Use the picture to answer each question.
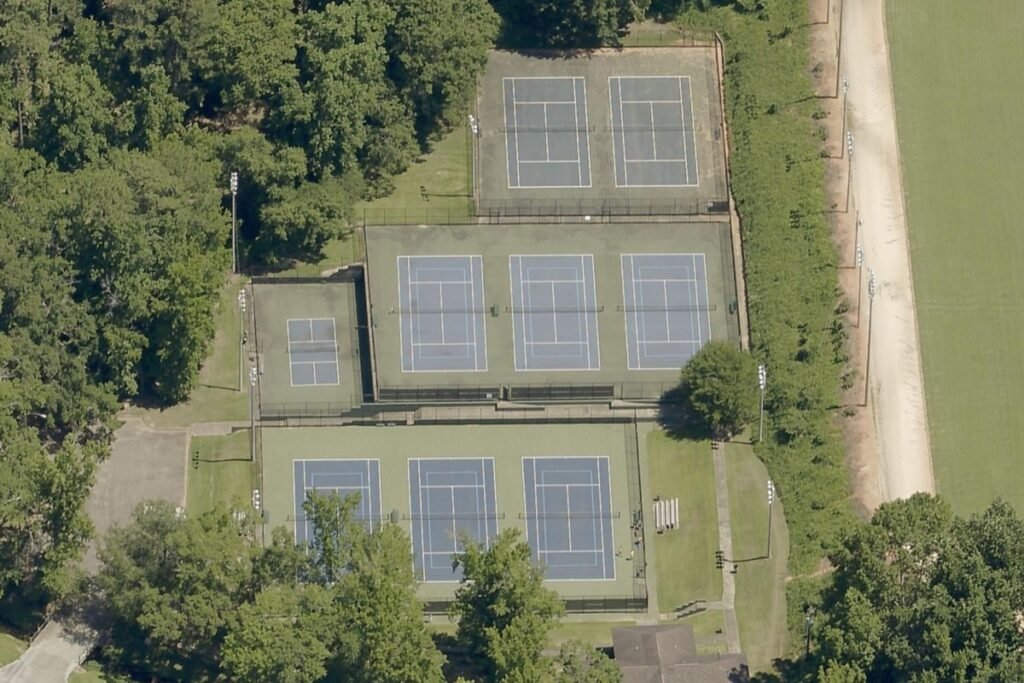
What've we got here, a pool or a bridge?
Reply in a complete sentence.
The one in the frame is a bridge.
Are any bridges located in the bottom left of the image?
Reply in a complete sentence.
Yes, a bridge is visible in the bottom left of the image.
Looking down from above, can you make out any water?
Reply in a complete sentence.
No, there's no water in this view.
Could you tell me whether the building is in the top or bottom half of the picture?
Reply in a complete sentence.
It is in the bottom half that the building appears.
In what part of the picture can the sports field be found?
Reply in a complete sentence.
The sports field sits in the right section of the image.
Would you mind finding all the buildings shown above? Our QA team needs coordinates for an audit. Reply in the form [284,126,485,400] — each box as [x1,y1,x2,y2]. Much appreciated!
[613,625,746,683]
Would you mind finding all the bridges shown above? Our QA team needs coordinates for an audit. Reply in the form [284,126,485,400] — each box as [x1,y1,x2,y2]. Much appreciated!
[24,611,104,671]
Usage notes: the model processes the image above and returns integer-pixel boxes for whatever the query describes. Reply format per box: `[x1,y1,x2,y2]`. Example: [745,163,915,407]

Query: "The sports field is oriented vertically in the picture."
[885,0,1024,599]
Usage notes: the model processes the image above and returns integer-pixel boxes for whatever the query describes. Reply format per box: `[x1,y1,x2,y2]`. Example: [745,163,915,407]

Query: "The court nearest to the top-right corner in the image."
[609,77,699,187]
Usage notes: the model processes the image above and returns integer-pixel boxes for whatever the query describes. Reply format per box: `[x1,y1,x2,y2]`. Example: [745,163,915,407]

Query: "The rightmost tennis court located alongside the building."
[522,457,616,579]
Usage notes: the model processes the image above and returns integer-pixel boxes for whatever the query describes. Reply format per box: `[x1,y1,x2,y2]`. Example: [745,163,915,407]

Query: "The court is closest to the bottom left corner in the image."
[294,459,381,581]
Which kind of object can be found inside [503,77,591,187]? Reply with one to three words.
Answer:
tennis court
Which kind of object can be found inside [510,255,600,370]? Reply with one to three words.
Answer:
tennis court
